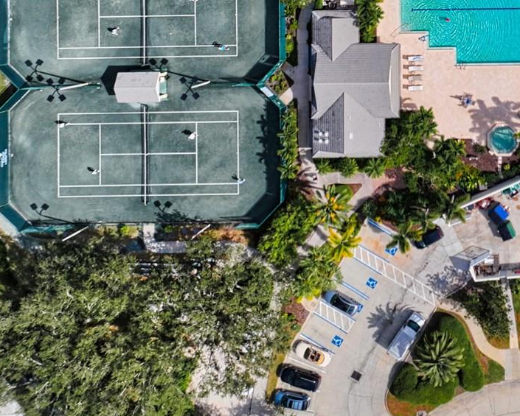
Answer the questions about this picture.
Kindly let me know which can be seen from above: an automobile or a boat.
automobile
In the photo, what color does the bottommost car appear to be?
blue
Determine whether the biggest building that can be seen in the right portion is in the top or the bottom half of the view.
top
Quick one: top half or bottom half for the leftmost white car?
bottom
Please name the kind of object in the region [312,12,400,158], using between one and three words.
building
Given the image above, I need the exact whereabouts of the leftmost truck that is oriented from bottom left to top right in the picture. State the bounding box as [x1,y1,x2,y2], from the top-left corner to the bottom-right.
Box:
[386,312,423,360]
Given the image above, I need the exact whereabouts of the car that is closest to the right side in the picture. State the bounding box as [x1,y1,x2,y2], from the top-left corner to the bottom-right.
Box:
[413,222,446,251]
